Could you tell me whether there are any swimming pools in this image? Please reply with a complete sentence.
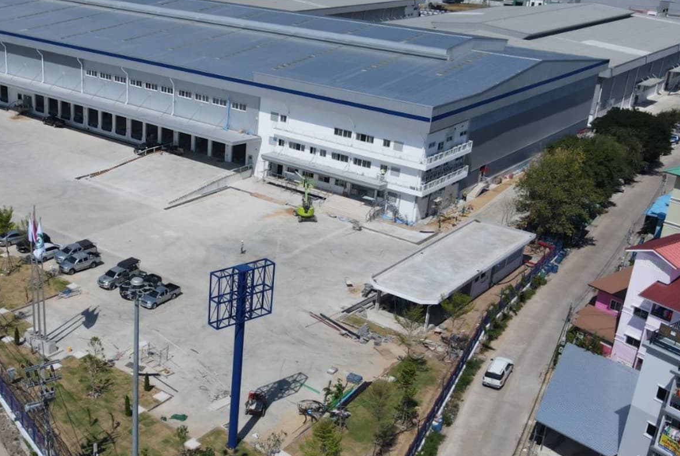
No, there appears to be no swimming pool in this shot.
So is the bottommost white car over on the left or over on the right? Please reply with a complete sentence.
The bottommost white car is on the right side of the image.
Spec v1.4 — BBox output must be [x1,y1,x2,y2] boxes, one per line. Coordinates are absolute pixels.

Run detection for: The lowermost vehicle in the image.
[243,385,277,413]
